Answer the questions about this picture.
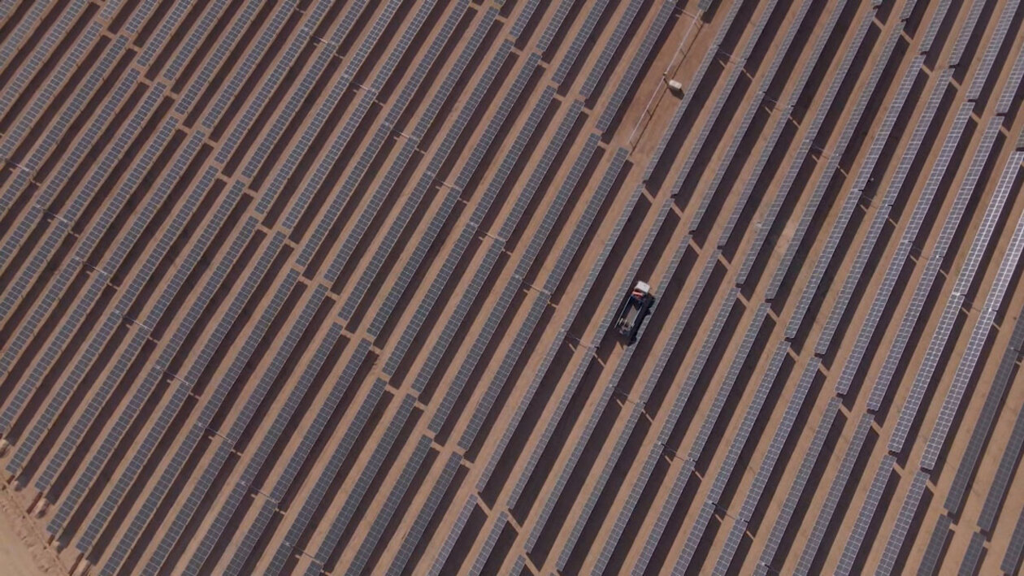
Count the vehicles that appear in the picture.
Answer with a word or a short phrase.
1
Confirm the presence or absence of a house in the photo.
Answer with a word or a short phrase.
No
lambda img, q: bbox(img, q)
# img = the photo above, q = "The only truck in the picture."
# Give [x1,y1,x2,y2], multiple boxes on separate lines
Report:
[611,282,653,342]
